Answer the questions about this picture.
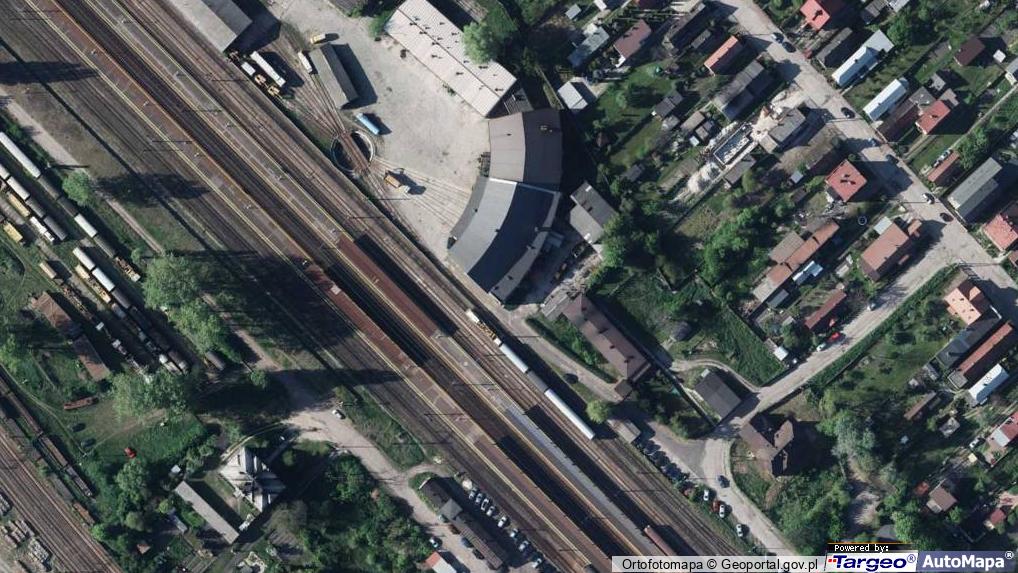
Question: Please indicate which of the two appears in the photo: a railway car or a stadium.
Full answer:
It is a railway car that can be seen here.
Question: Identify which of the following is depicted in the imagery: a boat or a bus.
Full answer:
It is a bus that can be seen here.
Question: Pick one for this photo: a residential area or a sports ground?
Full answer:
The picture captures a residential area.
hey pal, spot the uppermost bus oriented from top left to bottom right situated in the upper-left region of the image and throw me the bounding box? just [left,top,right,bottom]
[250,51,287,89]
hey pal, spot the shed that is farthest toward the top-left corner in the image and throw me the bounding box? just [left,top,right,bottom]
[167,0,253,53]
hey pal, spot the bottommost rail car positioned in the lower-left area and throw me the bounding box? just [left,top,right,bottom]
[71,501,96,526]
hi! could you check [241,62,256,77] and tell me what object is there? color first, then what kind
white rail car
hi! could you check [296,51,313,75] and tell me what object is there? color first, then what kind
white rail car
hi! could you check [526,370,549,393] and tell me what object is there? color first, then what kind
gray rail car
